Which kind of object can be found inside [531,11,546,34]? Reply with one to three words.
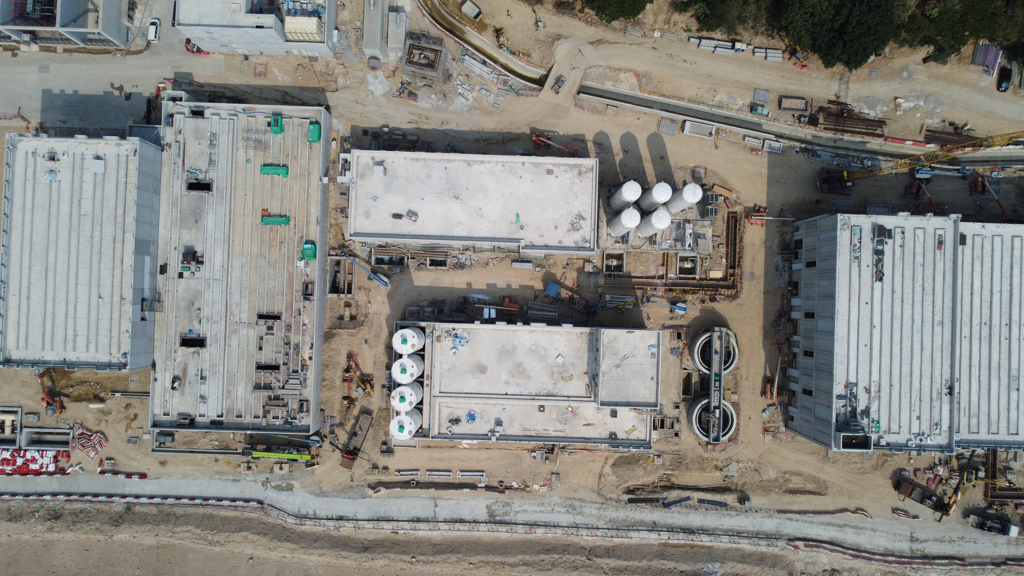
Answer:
work vehicle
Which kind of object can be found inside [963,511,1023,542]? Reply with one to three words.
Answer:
truck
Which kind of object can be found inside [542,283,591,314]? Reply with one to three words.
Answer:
truck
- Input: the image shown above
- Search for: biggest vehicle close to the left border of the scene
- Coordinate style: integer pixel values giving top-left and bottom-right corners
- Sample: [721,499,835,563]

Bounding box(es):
[29,371,70,420]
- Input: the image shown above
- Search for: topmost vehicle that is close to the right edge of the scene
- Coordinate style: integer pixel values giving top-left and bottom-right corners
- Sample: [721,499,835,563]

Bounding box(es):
[995,65,1013,93]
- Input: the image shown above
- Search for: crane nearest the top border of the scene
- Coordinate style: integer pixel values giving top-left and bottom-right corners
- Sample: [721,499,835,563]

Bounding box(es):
[814,136,1024,197]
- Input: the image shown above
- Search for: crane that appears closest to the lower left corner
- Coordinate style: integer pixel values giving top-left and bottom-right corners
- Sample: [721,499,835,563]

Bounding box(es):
[238,445,318,472]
